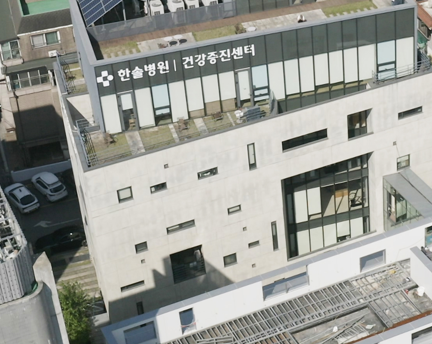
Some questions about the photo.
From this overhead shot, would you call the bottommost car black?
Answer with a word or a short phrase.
Yes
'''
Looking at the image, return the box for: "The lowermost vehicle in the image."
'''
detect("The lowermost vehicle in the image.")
[28,226,91,262]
